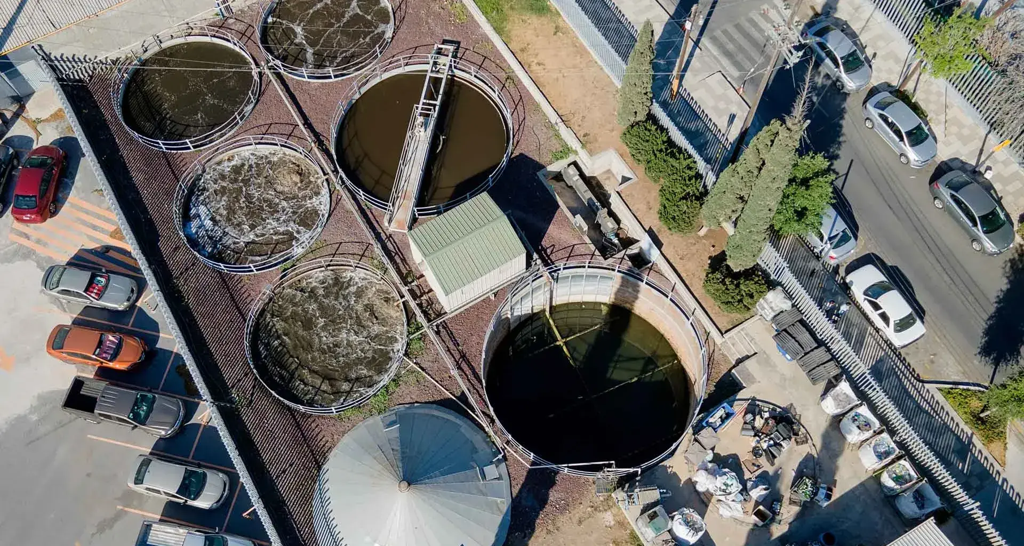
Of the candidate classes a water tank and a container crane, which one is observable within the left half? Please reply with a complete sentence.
The one visible within the left half is a water tank.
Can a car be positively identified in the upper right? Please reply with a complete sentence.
Yes, a car appears in the upper right.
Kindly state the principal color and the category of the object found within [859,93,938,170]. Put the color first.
gray car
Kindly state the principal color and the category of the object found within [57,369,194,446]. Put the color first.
gray truck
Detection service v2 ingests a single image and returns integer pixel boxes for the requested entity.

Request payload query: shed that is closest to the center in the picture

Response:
[407,192,527,315]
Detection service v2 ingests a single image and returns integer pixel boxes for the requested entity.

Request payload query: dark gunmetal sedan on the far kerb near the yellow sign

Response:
[927,167,1015,256]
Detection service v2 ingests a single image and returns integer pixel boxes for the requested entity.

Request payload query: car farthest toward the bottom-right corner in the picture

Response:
[844,264,929,350]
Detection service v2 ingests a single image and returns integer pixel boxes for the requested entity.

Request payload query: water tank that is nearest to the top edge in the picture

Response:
[253,0,392,84]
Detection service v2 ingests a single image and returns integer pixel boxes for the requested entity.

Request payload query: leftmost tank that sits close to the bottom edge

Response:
[313,404,511,546]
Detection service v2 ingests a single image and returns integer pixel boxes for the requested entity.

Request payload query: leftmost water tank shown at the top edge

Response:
[112,24,260,154]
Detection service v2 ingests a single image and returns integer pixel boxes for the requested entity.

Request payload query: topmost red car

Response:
[16,148,73,226]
